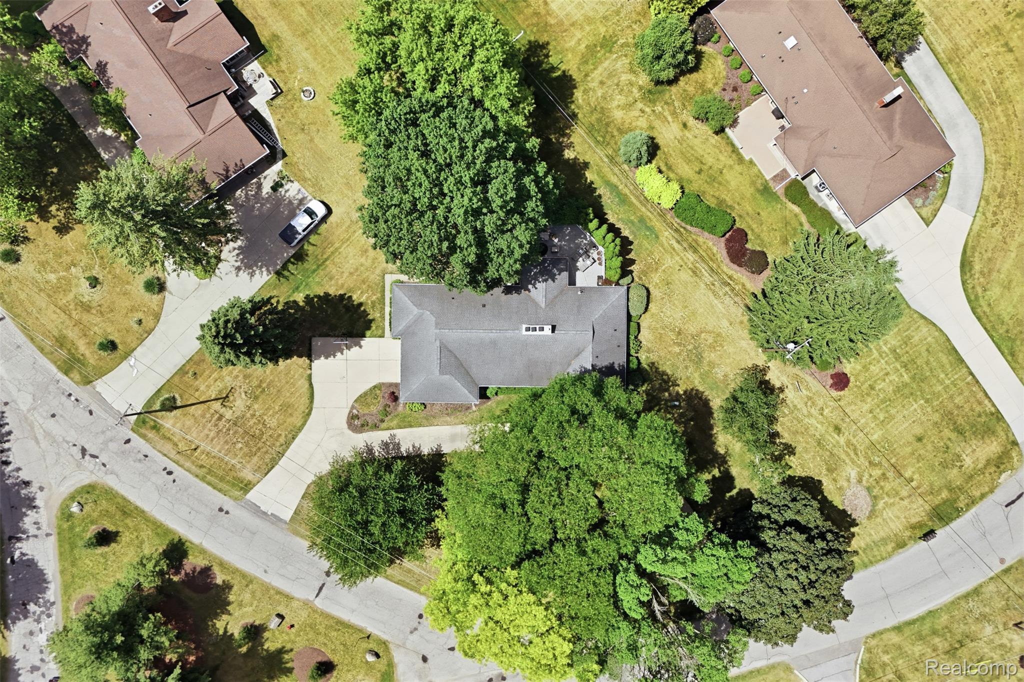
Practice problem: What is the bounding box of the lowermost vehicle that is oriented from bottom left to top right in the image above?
[279,200,330,247]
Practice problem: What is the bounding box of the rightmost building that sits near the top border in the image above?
[710,0,956,228]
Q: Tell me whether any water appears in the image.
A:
No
